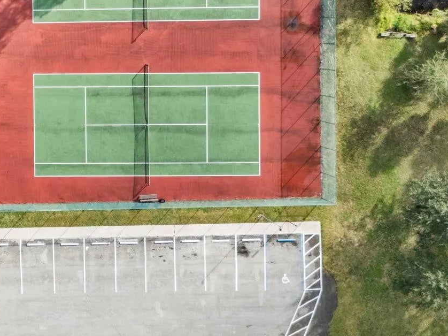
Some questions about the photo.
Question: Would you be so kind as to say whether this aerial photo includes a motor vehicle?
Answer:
No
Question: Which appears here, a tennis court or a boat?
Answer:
tennis court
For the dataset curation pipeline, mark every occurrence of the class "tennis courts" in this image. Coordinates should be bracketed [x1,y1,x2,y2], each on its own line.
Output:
[32,0,261,22]
[33,73,261,178]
